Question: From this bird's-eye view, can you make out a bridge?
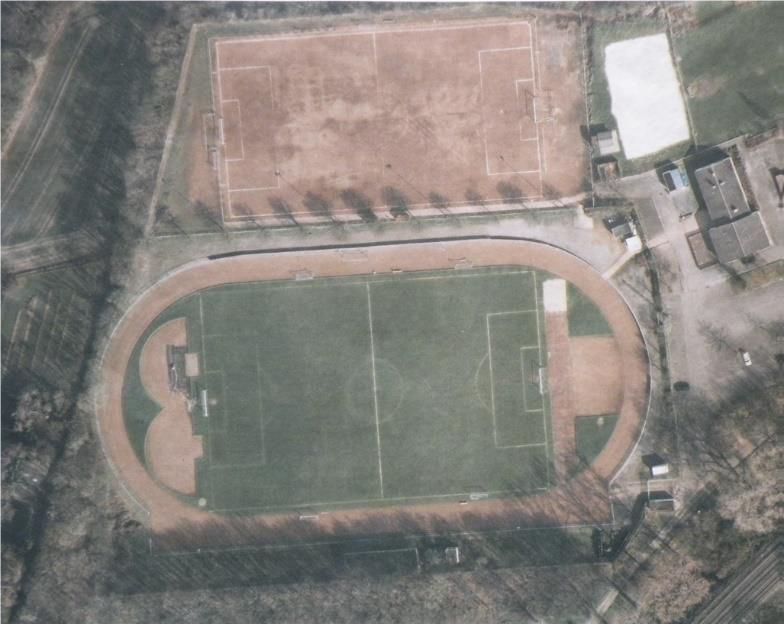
No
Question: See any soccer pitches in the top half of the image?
Yes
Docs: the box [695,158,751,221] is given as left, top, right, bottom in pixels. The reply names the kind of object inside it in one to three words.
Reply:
building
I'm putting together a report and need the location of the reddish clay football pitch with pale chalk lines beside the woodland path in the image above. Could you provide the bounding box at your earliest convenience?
[211,18,548,224]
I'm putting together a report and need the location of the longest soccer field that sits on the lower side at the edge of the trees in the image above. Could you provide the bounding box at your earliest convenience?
[122,265,625,515]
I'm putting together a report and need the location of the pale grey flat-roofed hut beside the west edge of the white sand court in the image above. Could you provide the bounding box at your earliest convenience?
[598,130,620,155]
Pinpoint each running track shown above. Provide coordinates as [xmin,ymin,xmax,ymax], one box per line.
[100,243,648,547]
